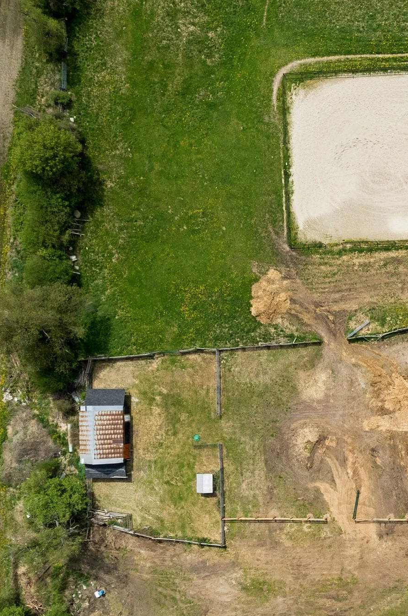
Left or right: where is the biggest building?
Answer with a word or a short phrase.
left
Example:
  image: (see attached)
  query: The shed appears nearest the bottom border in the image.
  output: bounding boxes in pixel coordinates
[197,473,216,493]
